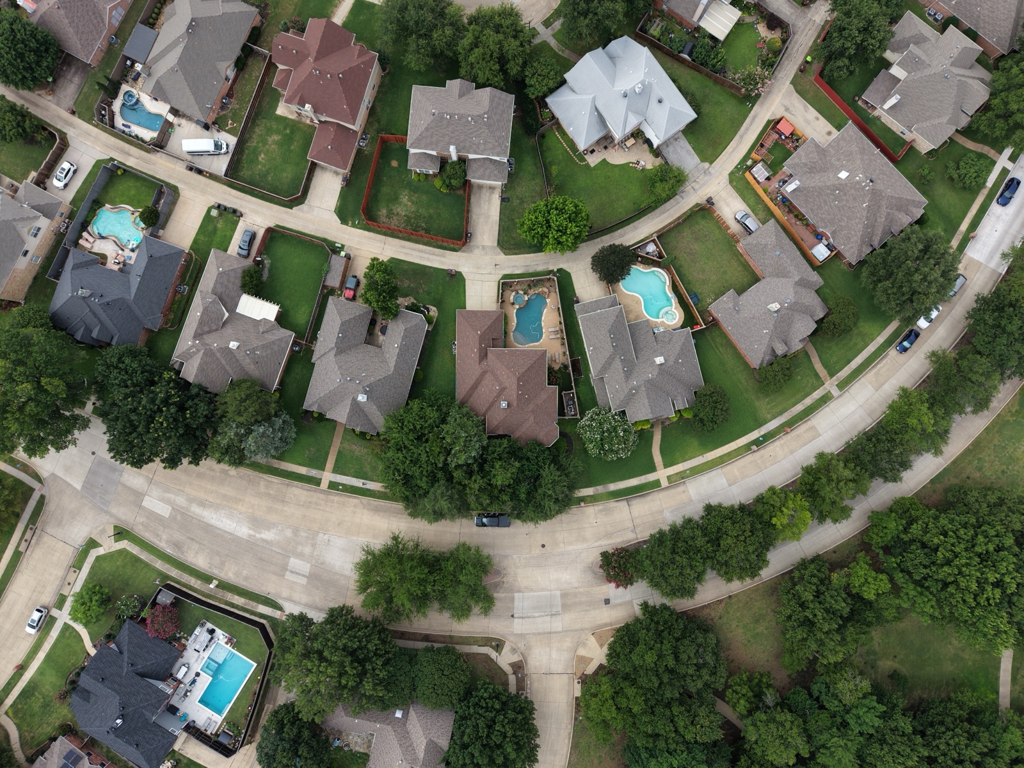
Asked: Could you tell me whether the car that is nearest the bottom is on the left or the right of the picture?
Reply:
left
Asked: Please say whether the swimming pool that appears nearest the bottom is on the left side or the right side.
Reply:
left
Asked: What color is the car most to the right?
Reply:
blue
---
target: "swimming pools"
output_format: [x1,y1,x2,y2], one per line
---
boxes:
[89,206,145,250]
[195,639,259,721]
[511,291,548,346]
[118,87,167,134]
[620,265,678,325]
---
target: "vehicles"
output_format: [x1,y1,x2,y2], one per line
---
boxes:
[734,208,758,236]
[996,176,1019,207]
[179,137,227,155]
[942,272,969,302]
[474,514,510,529]
[26,604,49,634]
[344,274,360,301]
[237,228,256,259]
[894,328,921,354]
[916,302,944,329]
[55,160,77,189]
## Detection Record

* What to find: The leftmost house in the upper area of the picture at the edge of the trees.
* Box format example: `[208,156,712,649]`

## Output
[0,167,80,297]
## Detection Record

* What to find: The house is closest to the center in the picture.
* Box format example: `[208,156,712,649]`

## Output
[456,309,559,441]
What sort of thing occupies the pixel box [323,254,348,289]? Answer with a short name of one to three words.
shed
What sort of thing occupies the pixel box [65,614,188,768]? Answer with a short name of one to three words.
house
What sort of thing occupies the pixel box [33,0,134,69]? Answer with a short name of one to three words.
house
